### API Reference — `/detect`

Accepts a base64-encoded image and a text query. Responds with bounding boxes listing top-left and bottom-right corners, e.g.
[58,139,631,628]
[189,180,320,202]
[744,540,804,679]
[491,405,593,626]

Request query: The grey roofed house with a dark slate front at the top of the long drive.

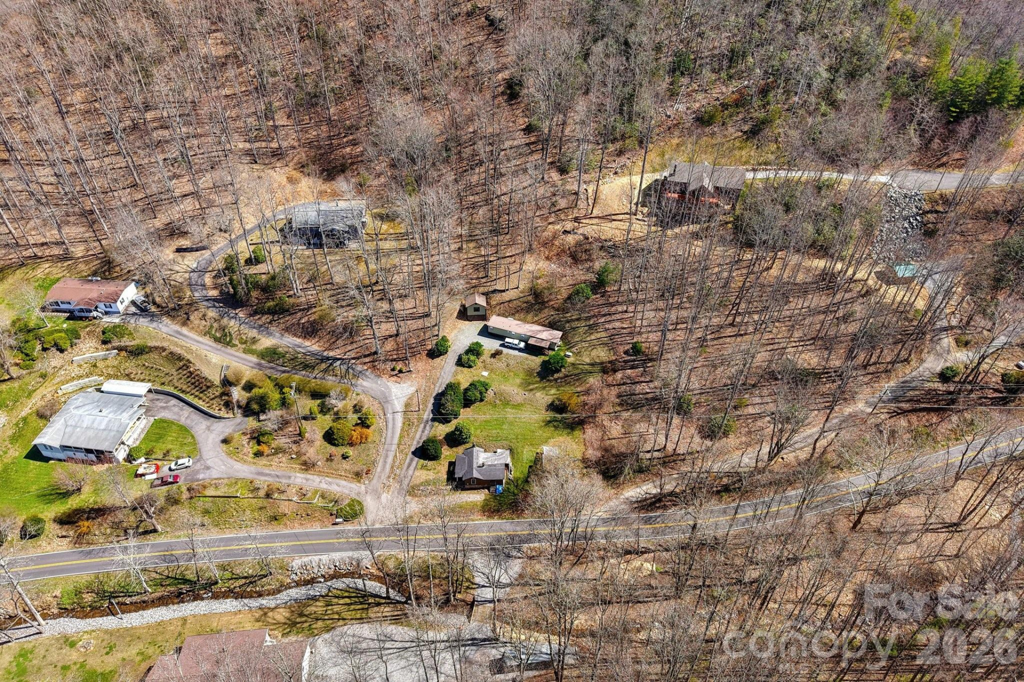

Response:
[288,202,368,253]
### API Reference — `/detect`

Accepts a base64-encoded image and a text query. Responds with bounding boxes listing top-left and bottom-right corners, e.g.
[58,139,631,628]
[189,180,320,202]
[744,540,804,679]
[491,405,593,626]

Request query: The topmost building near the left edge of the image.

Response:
[43,279,141,316]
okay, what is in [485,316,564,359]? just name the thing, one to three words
house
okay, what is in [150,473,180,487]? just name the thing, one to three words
vehicle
